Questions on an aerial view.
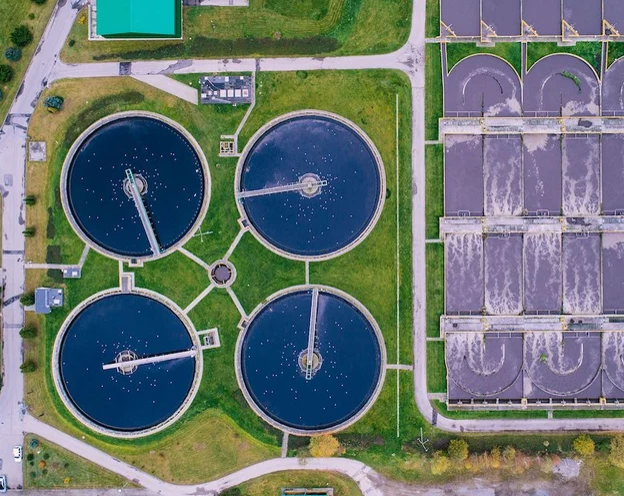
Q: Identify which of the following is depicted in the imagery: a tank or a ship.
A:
tank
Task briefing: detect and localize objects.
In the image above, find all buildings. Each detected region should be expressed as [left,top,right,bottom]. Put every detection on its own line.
[35,288,65,313]
[63,268,82,277]
[280,490,328,496]
[96,0,180,38]
[200,77,251,104]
